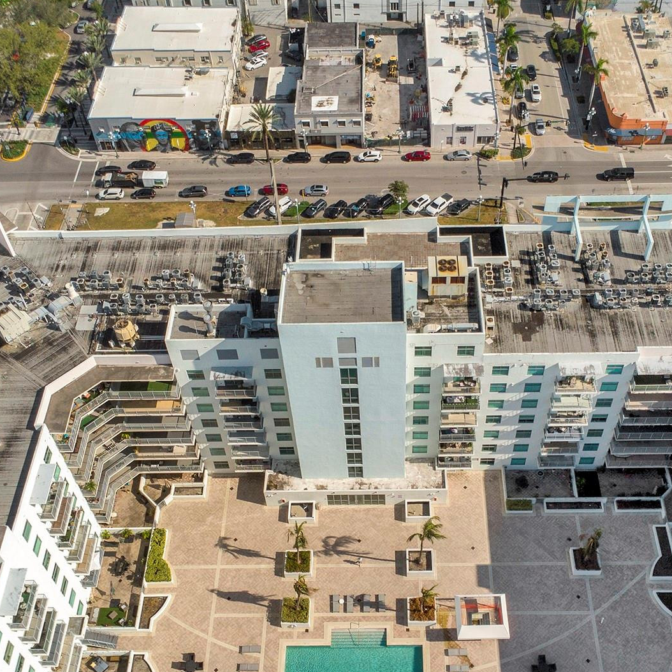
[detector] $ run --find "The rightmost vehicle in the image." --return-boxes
[604,167,633,182]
